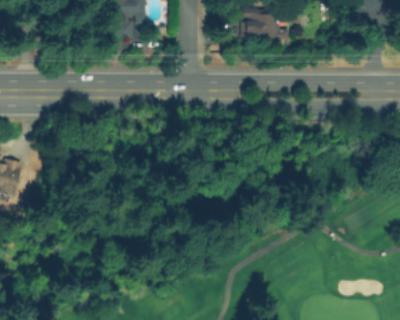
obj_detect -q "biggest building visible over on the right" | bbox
[237,8,290,40]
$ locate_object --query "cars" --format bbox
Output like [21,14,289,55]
[82,75,93,80]
[132,42,144,48]
[173,86,184,90]
[147,42,159,47]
